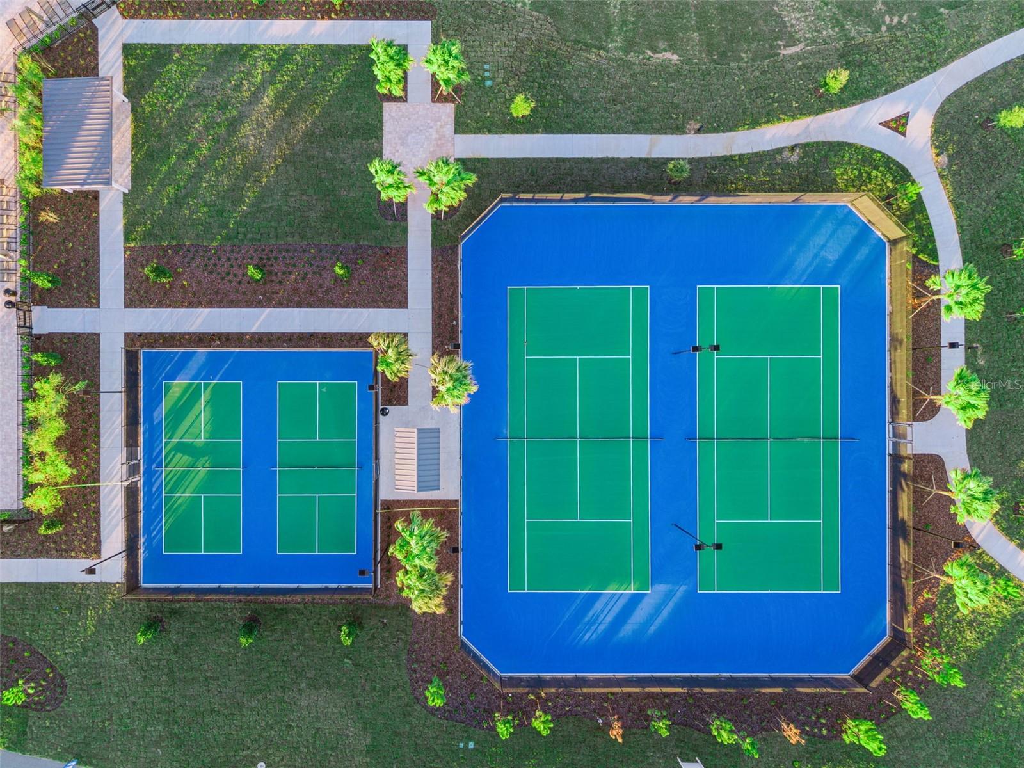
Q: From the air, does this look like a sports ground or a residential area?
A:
sports ground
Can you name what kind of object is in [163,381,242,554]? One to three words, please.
sports court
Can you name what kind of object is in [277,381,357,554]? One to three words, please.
sports court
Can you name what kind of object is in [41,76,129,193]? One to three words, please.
building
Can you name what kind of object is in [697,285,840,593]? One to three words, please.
tennis court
